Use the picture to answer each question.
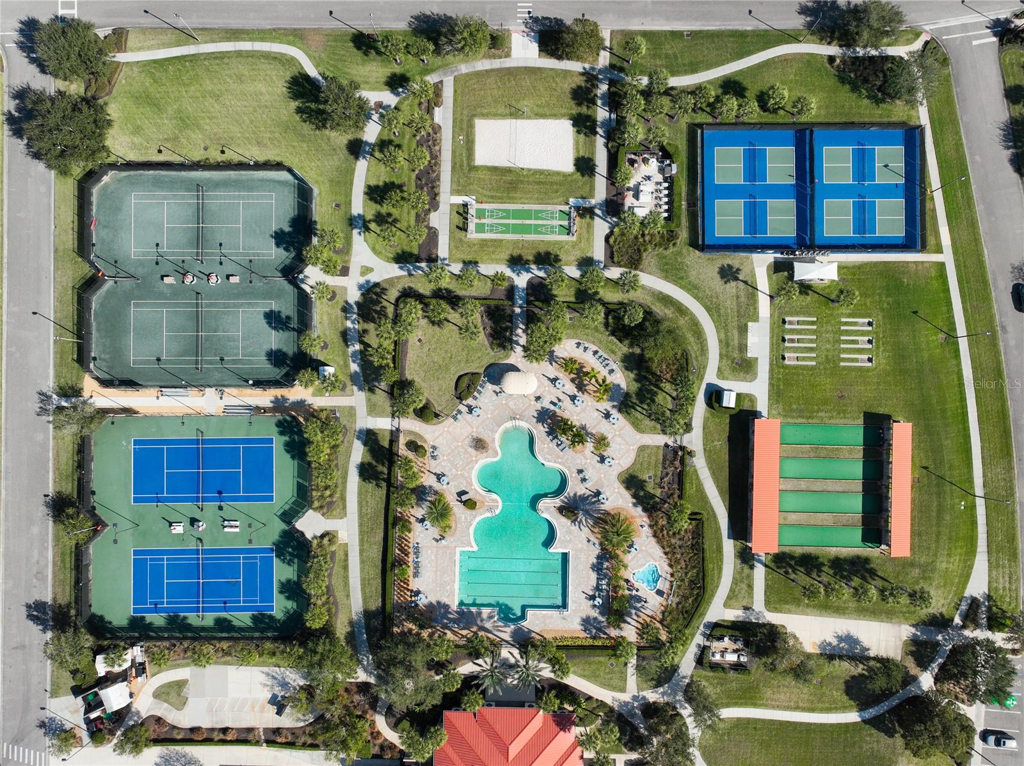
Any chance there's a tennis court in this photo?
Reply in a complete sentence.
Yes, a tennis court can be made out from above.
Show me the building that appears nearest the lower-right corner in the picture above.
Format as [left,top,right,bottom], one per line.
[883,422,912,557]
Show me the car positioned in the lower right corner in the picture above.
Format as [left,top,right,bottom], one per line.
[984,732,1015,747]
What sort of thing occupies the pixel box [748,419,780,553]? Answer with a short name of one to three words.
building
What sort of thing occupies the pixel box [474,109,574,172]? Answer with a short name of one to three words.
sports court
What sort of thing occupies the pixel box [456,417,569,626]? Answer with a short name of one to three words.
swimming pool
